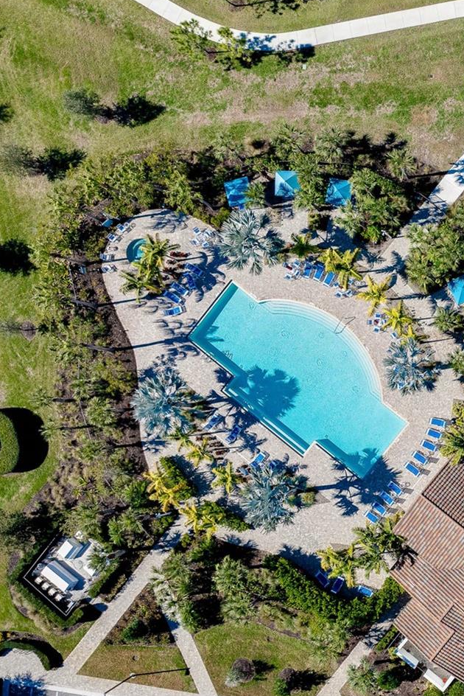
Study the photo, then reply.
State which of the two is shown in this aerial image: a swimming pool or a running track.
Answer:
swimming pool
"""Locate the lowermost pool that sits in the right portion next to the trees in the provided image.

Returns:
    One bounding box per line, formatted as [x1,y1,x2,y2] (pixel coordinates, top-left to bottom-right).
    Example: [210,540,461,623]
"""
[185,278,410,481]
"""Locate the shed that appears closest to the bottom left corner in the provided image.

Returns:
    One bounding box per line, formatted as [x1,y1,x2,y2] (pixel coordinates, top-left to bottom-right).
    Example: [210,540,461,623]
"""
[43,558,83,590]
